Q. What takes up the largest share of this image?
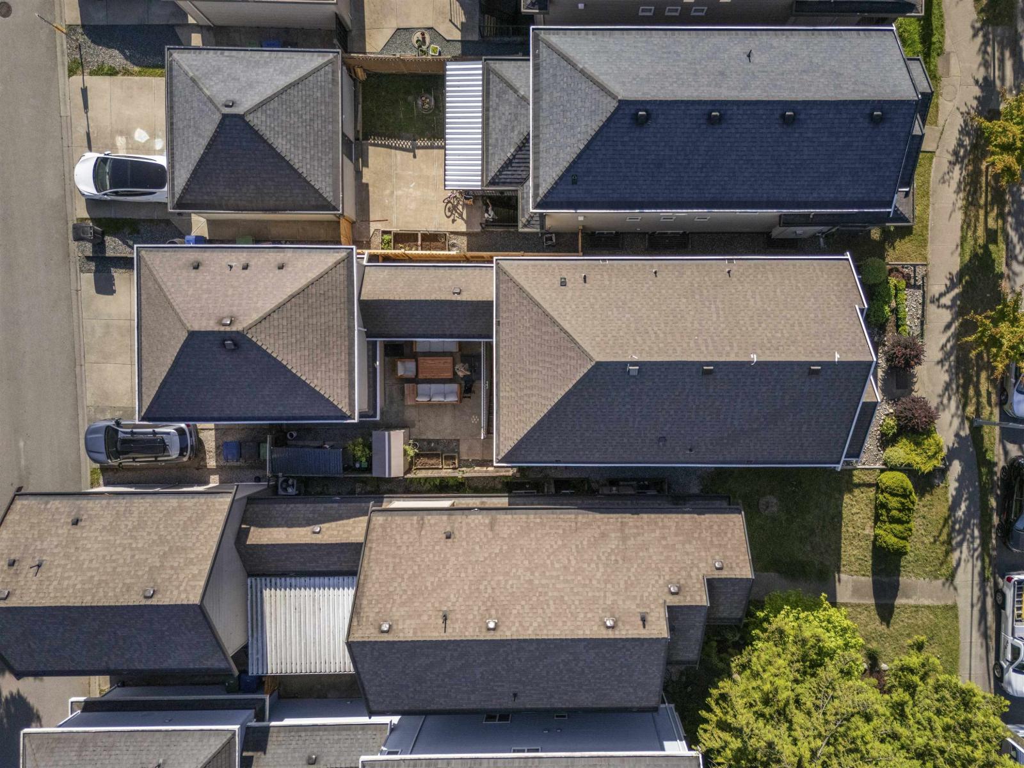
buildings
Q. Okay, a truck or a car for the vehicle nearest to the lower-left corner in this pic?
car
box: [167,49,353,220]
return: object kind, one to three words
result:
building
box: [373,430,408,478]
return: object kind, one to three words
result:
shed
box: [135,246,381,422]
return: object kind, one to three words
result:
house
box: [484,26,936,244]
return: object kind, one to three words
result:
house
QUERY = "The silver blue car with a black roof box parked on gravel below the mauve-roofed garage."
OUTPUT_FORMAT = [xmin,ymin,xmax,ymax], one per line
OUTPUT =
[84,415,202,470]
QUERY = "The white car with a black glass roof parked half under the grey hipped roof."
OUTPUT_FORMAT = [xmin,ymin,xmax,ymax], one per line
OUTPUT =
[75,148,169,203]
